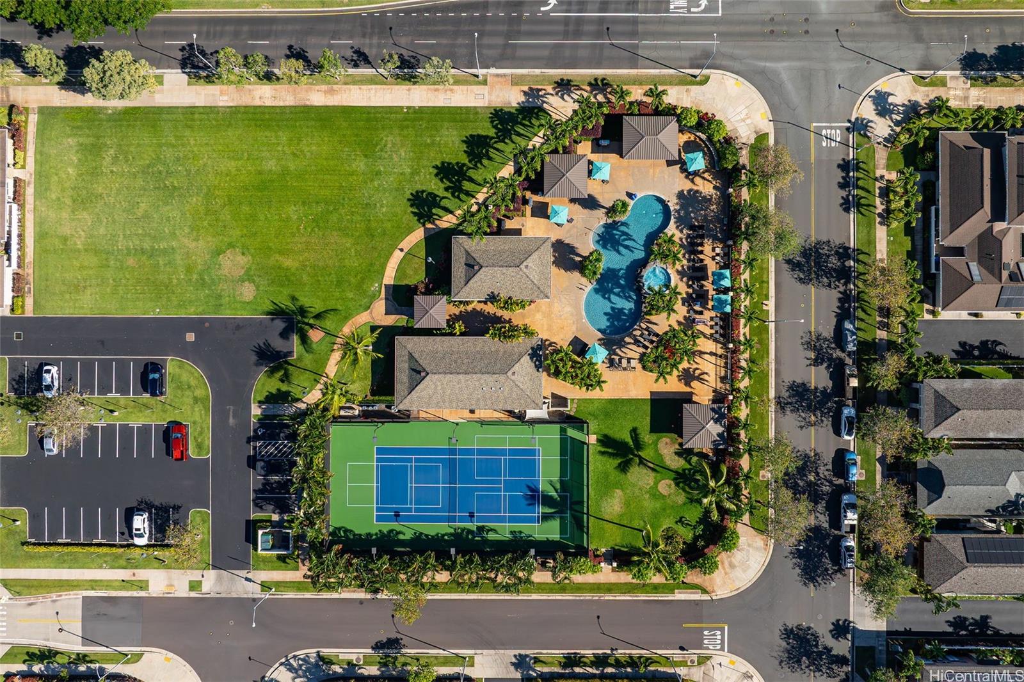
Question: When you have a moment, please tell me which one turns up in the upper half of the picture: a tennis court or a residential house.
residential house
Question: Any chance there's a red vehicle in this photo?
Yes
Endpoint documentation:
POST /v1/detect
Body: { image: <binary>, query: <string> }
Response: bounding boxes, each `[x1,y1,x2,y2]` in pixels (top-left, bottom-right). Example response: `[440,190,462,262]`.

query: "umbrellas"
[711,269,730,289]
[591,162,610,181]
[584,340,609,363]
[684,152,704,172]
[549,205,568,224]
[711,294,730,313]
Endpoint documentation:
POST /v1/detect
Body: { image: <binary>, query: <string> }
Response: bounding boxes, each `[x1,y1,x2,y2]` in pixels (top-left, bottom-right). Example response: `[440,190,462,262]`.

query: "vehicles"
[146,362,164,395]
[842,450,859,481]
[842,364,861,401]
[40,364,59,396]
[840,492,859,534]
[840,319,856,352]
[840,406,858,440]
[131,510,149,544]
[40,425,59,456]
[170,424,188,461]
[839,536,857,569]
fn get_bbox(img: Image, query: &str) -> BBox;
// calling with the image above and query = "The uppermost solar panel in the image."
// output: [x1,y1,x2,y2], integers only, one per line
[997,286,1024,307]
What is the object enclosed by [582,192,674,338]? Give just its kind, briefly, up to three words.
swimming pool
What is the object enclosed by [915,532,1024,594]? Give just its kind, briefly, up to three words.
house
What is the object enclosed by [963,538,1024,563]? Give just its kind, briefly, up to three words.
solar panel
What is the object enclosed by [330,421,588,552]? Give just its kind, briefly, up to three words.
tennis court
